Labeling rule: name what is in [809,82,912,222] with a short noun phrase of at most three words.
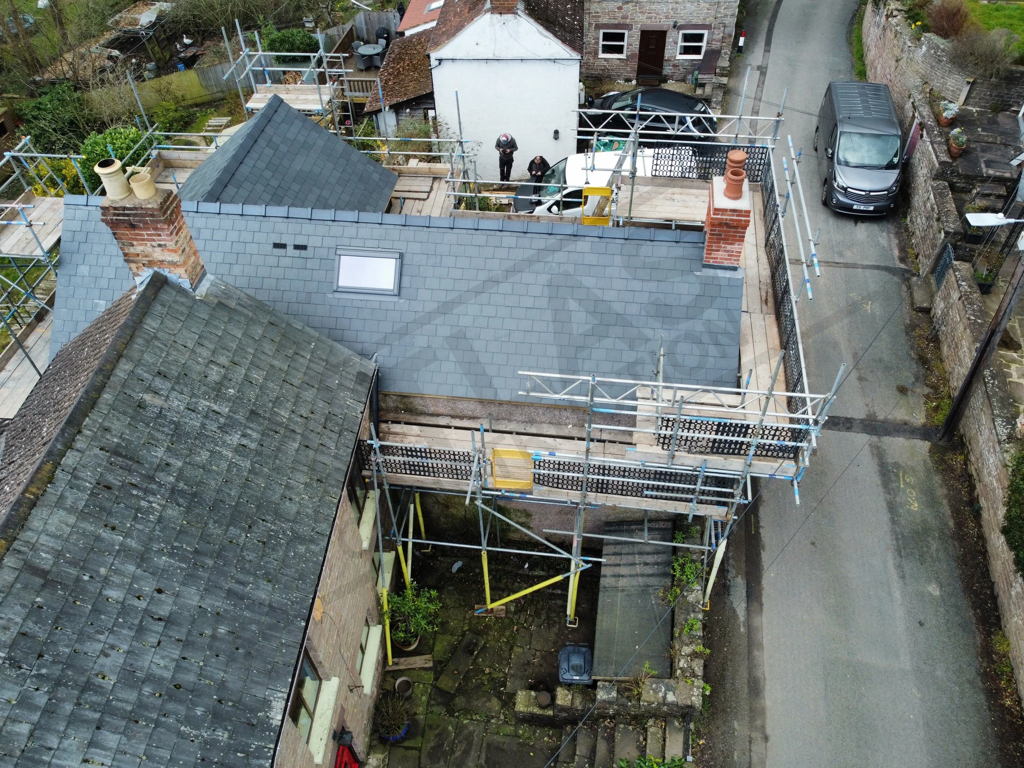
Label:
van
